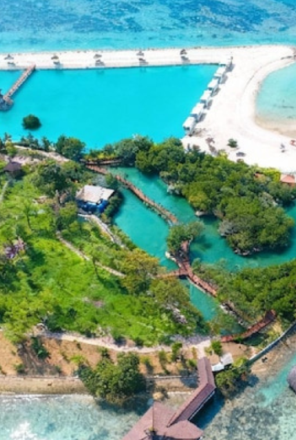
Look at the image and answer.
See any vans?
No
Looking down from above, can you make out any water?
Yes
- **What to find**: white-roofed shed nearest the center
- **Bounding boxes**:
[74,187,115,216]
